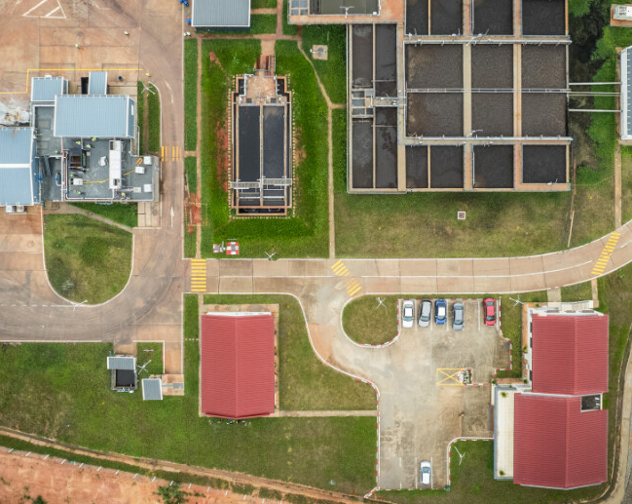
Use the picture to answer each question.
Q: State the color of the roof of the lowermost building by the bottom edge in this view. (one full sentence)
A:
From above, the roof of the lowermost building by the bottom edge looks red.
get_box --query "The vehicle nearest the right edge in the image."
[482,297,496,326]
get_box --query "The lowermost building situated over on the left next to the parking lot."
[201,310,275,419]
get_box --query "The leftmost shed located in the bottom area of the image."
[107,354,138,370]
